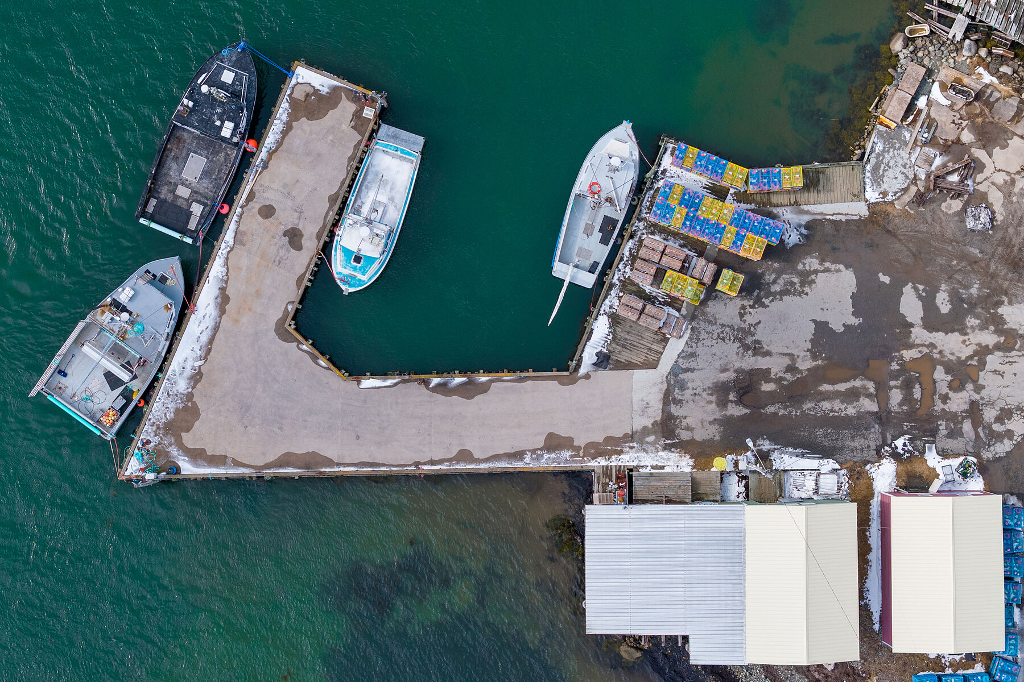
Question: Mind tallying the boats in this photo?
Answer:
4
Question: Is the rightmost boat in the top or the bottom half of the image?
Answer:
top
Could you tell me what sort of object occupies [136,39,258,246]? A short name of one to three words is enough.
boat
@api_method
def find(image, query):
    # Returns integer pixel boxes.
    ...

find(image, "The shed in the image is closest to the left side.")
[586,501,745,665]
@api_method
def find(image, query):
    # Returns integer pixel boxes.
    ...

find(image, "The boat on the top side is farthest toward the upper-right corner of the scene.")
[547,119,640,326]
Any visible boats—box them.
[136,39,258,246]
[28,255,185,440]
[547,119,640,326]
[331,123,426,295]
